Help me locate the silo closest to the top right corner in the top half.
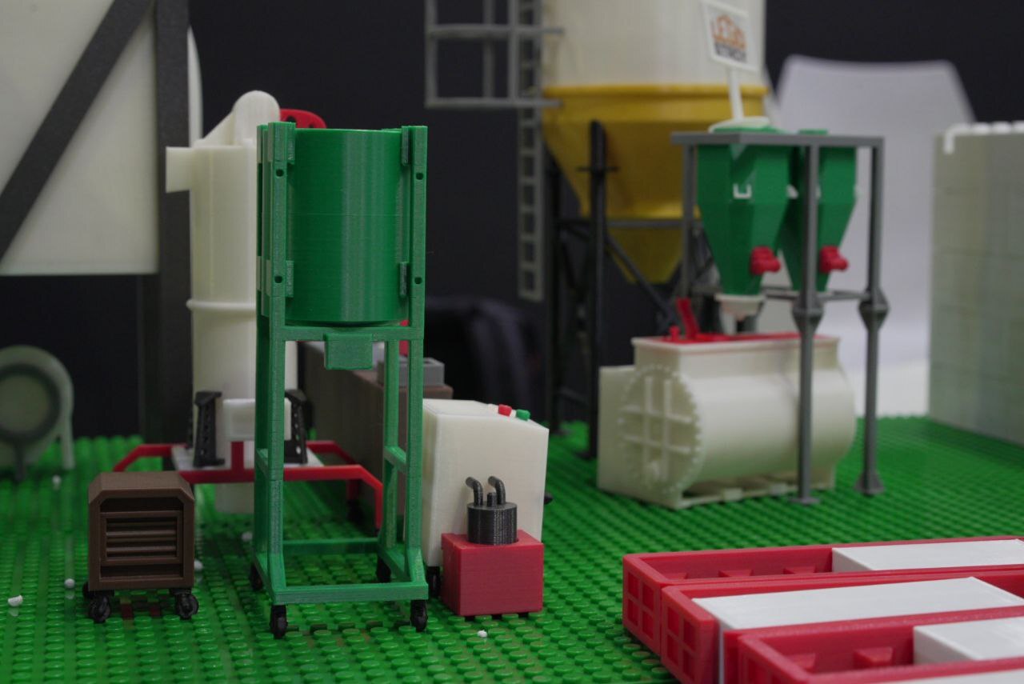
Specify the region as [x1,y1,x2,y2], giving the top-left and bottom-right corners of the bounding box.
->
[424,0,767,460]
